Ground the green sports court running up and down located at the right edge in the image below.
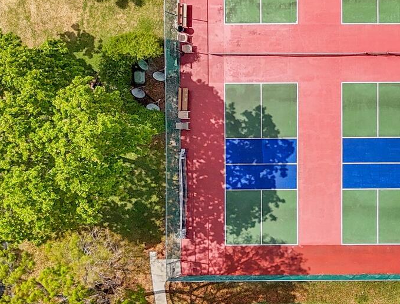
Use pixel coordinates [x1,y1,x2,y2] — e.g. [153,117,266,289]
[341,82,400,244]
